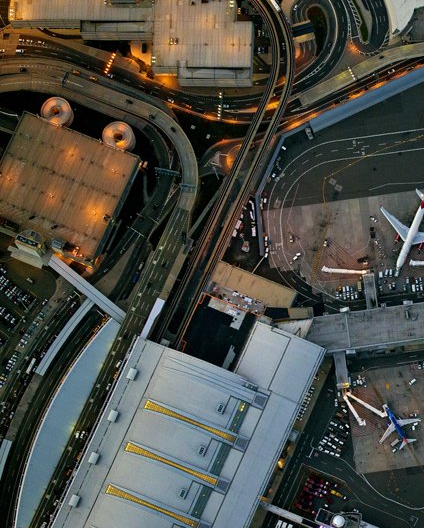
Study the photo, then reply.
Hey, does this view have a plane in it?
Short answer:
Yes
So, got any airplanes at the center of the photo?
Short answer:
No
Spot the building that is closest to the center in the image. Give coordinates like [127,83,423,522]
[210,261,298,308]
